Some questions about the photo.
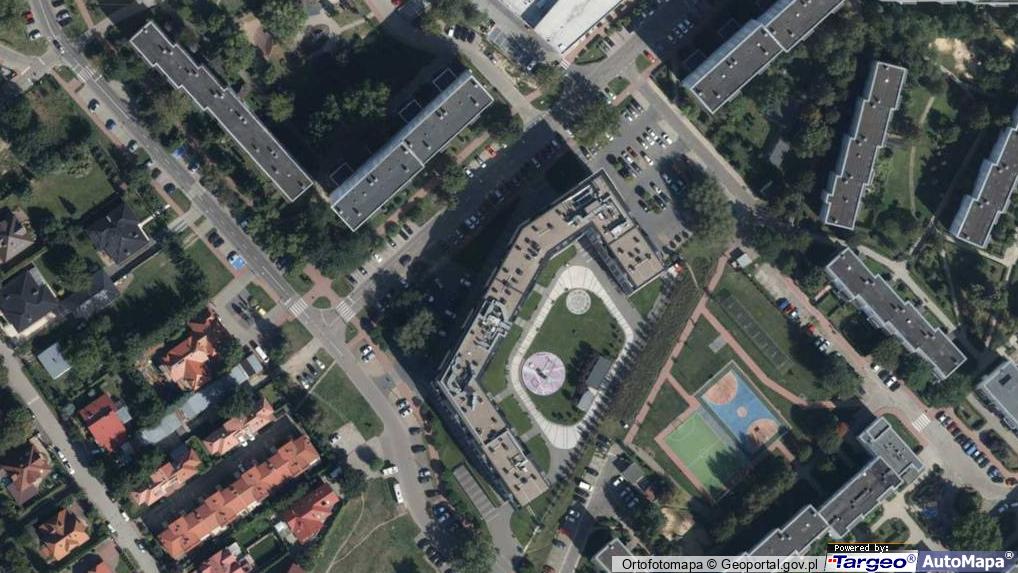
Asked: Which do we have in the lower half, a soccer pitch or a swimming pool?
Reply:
soccer pitch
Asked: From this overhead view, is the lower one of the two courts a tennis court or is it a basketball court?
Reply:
basketball court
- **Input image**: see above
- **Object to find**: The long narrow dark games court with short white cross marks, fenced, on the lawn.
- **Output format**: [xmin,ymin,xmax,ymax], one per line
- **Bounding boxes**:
[720,294,793,370]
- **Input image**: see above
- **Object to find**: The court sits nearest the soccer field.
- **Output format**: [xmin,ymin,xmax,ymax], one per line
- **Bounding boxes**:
[695,361,786,463]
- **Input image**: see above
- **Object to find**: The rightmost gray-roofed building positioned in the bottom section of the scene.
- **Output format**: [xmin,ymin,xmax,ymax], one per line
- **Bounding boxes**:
[970,359,1018,436]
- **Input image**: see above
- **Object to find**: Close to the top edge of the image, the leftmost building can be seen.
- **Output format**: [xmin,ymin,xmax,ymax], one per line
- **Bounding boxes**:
[129,22,312,200]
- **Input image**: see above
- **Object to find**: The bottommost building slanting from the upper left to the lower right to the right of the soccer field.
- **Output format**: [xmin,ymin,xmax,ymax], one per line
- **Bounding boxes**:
[846,415,925,483]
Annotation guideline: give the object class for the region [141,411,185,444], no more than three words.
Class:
shed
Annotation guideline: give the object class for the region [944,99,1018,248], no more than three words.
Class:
building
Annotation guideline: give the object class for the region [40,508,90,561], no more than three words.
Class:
house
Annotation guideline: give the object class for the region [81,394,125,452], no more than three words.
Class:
house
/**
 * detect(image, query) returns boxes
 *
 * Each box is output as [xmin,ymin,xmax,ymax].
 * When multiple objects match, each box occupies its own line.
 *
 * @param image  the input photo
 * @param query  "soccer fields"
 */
[654,402,748,502]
